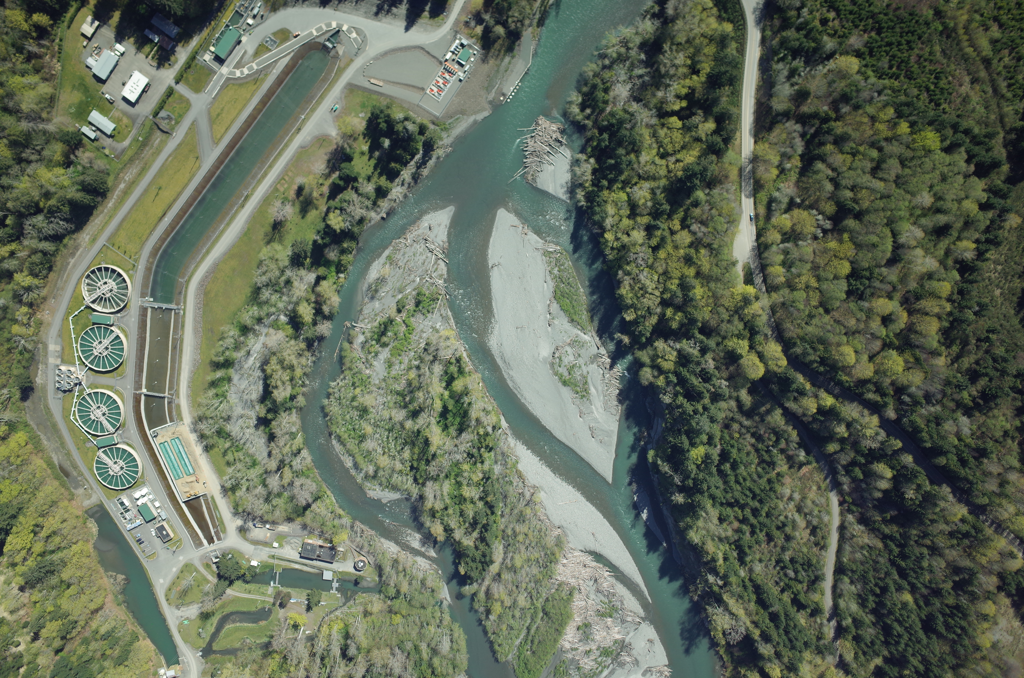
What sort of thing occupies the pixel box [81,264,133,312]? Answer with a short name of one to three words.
water tank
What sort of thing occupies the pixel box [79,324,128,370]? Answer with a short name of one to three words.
water tank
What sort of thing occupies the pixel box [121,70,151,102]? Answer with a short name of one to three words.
building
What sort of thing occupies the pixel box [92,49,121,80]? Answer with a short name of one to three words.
building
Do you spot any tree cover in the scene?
Yes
